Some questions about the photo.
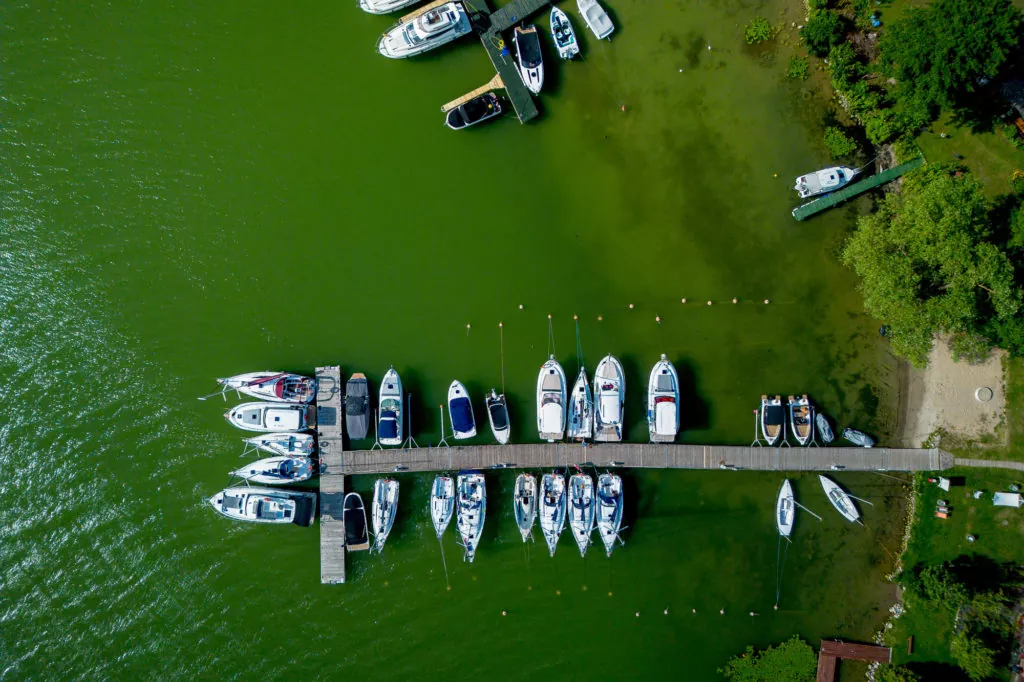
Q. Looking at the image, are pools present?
No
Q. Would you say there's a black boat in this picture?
Yes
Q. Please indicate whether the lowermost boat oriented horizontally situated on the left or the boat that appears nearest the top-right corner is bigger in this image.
the lowermost boat oriented horizontally situated on the left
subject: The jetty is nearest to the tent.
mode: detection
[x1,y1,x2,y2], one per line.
[342,443,954,474]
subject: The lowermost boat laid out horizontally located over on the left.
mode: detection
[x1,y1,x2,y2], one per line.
[205,484,320,525]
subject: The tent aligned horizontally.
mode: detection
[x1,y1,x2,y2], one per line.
[986,490,1021,507]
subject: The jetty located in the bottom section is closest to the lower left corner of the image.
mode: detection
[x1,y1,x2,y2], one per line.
[315,366,345,584]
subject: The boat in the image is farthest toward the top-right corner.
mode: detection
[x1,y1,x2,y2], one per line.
[790,165,860,196]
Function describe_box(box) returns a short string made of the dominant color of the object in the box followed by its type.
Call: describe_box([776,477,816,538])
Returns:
white boat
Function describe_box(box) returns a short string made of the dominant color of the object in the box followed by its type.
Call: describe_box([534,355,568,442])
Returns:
white boat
